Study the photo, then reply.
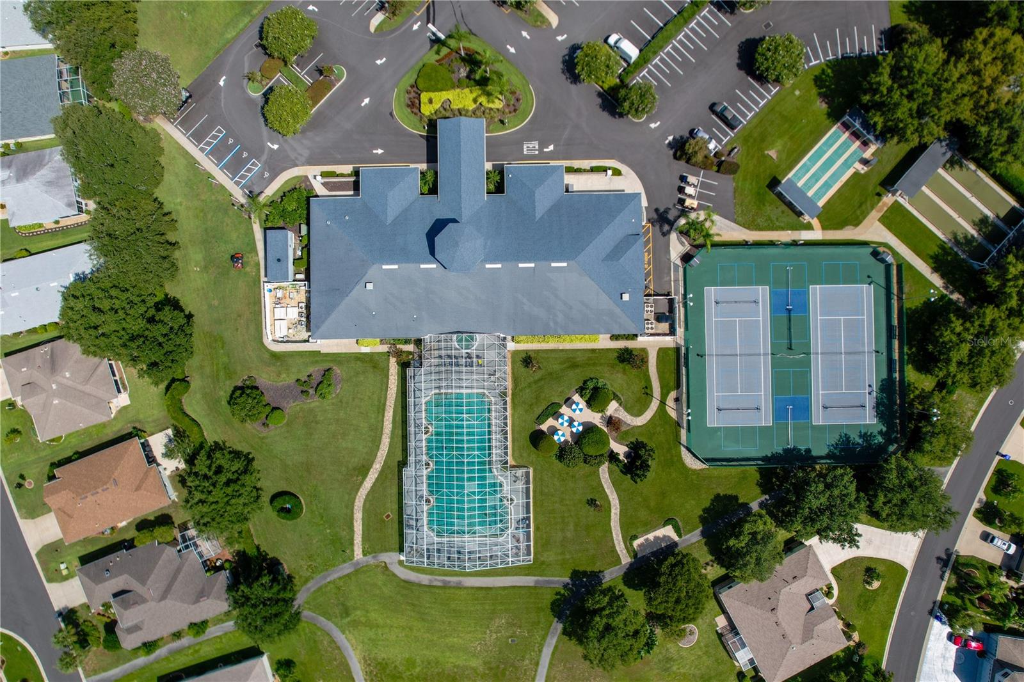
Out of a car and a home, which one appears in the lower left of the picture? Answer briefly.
home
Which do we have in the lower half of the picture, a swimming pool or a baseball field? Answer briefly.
swimming pool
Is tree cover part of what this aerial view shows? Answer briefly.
Yes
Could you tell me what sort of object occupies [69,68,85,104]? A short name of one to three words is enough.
swimming pool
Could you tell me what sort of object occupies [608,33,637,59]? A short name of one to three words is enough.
vehicle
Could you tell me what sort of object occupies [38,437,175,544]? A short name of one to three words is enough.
house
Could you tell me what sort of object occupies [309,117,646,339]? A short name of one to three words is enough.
building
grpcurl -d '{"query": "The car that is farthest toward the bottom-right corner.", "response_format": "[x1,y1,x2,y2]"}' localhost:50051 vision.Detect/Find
[955,633,984,650]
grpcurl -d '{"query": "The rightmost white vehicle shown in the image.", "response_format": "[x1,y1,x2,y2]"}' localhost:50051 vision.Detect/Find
[989,534,1019,552]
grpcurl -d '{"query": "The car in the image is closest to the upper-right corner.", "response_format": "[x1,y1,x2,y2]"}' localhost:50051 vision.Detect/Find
[715,103,742,127]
